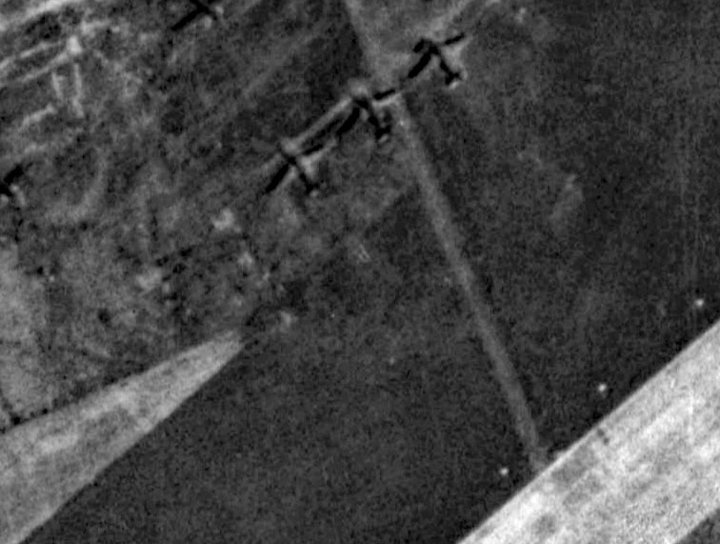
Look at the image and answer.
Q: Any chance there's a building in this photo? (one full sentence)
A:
No, this view has no building in it.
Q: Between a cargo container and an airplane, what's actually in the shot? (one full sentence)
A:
I can see an airplane in this picture.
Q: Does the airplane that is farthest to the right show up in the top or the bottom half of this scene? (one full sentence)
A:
It is in the top half that the airplane that is farthest to the right appears.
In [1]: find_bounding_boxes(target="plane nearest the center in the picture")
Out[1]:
[274,146,334,198]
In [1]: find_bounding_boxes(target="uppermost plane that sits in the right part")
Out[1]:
[415,36,475,86]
